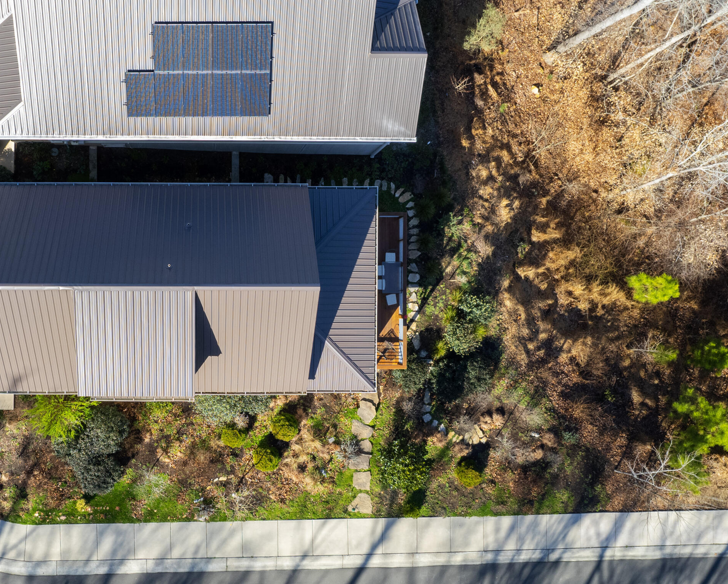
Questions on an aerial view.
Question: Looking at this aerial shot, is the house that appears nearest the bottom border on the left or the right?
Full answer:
It is on the left.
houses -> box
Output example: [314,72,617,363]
[0,182,377,402]
[0,0,428,159]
